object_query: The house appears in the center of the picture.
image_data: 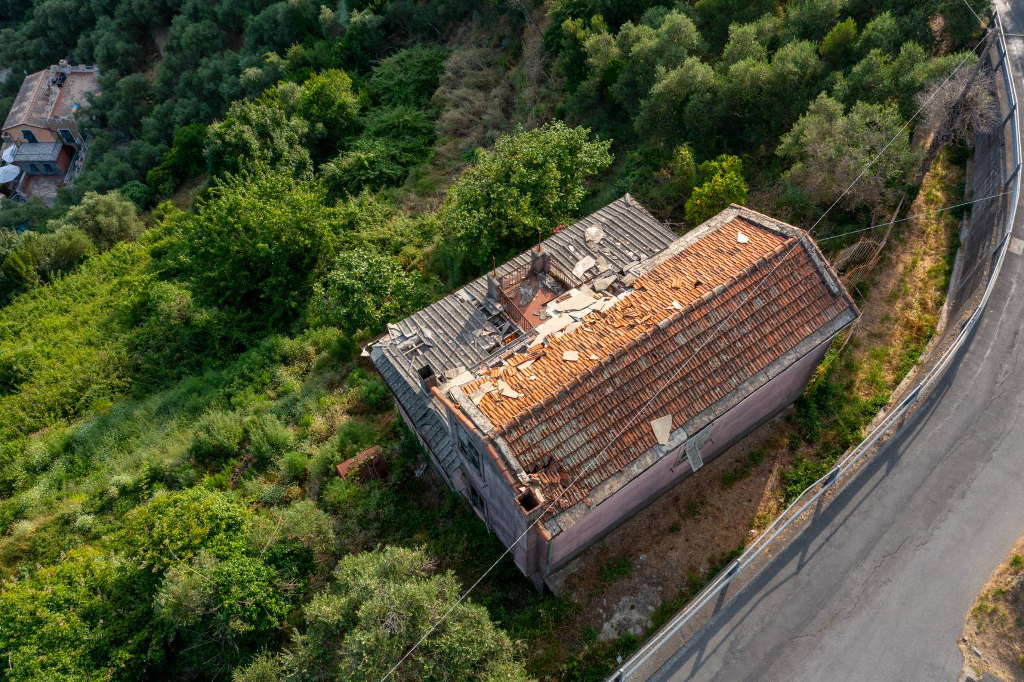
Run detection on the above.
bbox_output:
[358,195,859,601]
